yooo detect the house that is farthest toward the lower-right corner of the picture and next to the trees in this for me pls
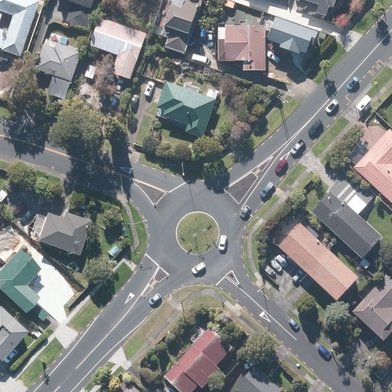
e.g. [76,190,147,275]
[352,274,392,340]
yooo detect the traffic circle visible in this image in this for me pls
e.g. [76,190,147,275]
[176,210,219,254]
